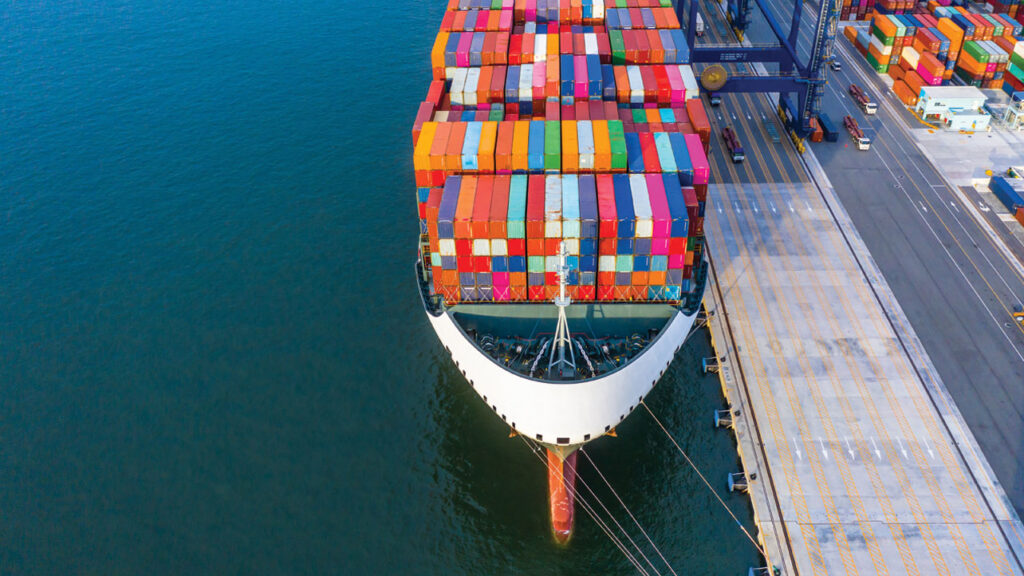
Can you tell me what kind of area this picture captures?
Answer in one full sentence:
This image shows a port.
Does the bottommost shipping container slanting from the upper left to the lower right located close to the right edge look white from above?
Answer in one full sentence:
No, the bottommost shipping container slanting from the upper left to the lower right located close to the right edge is blue.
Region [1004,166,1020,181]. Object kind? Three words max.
work vehicle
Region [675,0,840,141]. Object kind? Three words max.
container crane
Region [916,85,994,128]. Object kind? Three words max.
building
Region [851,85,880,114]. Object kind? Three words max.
truck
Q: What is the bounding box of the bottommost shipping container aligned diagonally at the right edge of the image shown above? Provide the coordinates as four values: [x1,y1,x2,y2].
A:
[987,177,1024,216]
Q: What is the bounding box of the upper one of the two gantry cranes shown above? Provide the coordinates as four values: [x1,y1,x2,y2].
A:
[727,0,758,39]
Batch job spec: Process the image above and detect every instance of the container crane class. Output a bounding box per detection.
[727,0,758,39]
[675,0,840,141]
